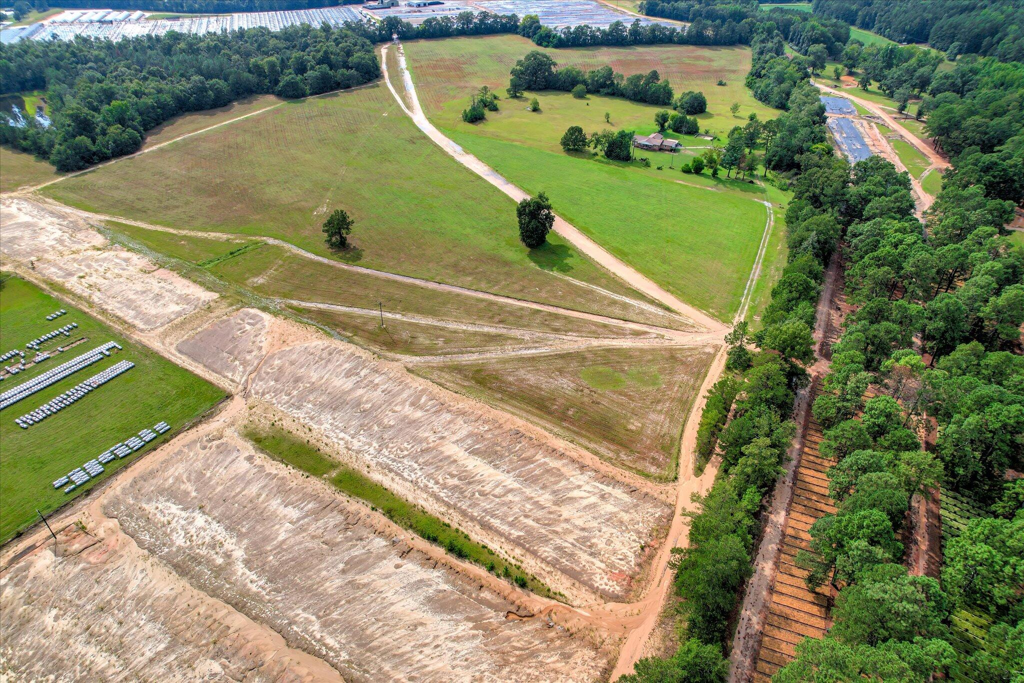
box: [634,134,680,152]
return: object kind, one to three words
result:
house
